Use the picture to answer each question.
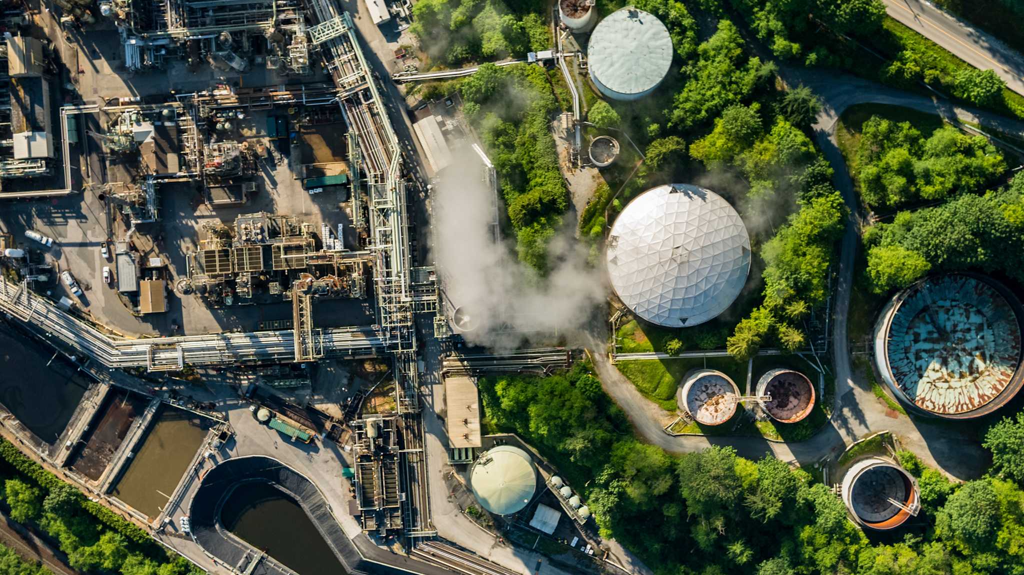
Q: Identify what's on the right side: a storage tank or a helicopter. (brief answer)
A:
storage tank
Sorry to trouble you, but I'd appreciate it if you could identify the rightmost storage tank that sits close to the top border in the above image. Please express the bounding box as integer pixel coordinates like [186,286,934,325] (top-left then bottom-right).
[580,7,675,108]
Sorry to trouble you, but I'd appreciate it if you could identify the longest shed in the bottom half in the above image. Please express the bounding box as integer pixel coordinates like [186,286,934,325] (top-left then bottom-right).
[446,375,482,448]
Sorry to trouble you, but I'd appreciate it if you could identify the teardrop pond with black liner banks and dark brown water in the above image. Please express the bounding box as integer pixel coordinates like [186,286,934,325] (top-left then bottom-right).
[188,454,373,575]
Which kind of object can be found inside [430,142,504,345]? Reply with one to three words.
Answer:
cooling tower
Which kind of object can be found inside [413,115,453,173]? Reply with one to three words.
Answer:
shed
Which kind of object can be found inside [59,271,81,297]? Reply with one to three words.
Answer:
truck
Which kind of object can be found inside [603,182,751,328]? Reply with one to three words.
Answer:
storage tank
